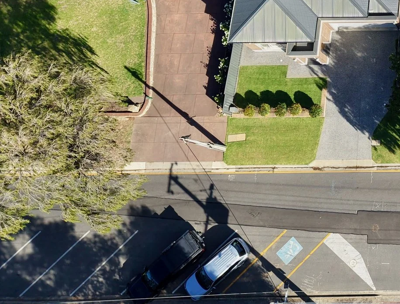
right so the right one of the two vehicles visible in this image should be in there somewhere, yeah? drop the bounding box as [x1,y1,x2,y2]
[179,231,246,301]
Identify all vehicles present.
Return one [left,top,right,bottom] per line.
[129,233,208,304]
[179,231,246,301]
